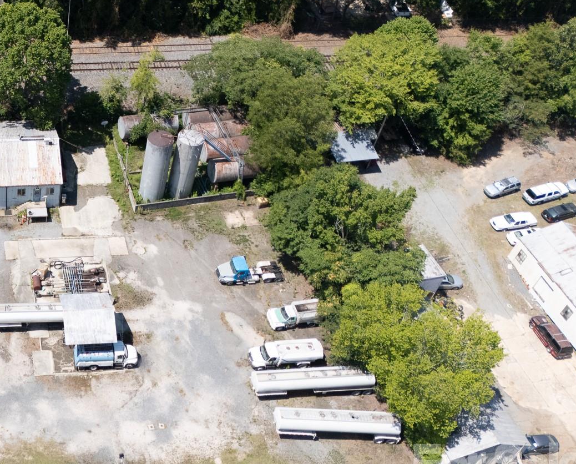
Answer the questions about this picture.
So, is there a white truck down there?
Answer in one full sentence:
Yes, a white truck appears in the view.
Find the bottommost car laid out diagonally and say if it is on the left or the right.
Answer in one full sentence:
The bottommost car laid out diagonally is on the right side of the image.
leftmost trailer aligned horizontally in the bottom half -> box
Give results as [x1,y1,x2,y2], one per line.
[0,302,63,332]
